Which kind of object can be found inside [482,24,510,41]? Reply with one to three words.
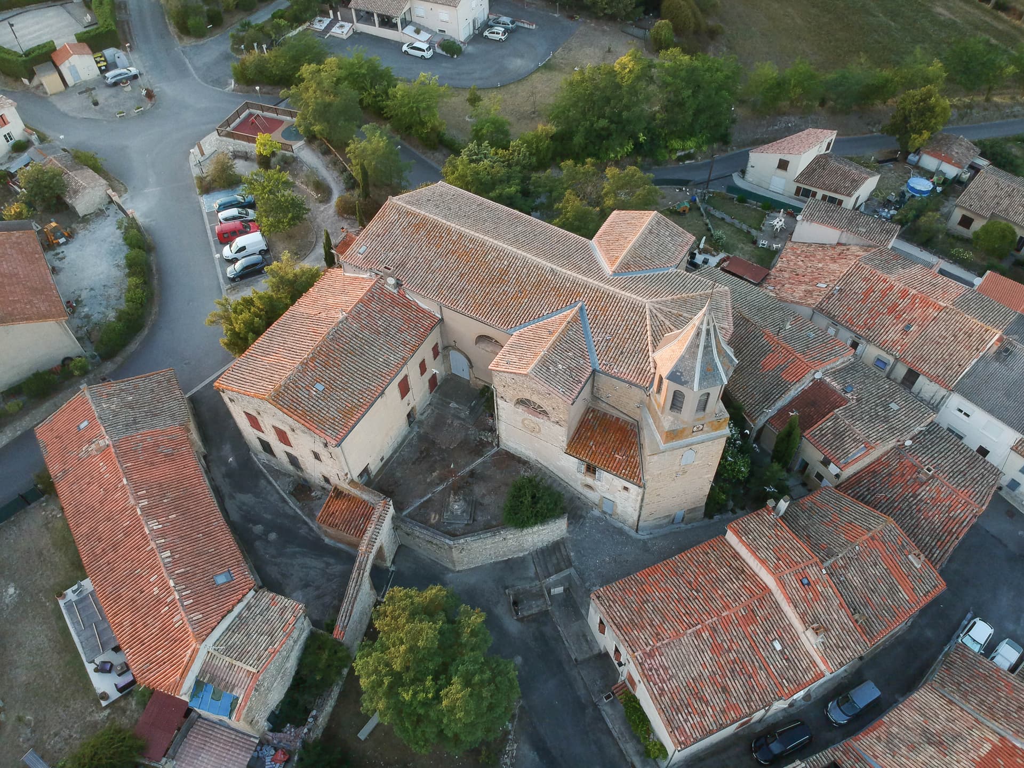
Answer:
car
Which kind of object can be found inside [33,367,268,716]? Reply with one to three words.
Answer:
house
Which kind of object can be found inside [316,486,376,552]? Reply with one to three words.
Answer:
shed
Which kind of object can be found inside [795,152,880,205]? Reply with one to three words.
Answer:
house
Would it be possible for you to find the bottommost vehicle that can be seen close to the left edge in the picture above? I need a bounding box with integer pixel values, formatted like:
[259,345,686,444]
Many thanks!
[39,219,73,245]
